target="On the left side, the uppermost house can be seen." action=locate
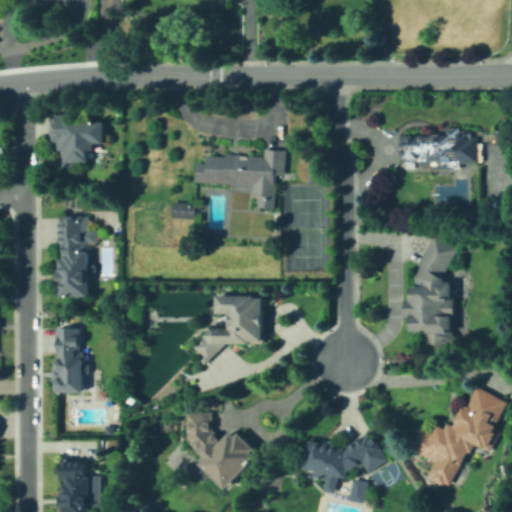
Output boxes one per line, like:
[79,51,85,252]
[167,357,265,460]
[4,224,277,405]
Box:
[48,114,102,167]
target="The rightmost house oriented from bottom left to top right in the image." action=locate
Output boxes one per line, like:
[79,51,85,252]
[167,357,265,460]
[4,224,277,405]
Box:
[416,388,507,490]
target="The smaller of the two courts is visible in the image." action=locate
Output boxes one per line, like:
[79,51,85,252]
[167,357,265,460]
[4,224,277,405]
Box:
[374,462,404,488]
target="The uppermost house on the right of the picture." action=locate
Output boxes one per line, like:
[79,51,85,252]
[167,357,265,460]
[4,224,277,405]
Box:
[401,124,484,170]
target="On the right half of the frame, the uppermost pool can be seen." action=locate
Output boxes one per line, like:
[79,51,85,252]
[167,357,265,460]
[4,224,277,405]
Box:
[436,179,469,203]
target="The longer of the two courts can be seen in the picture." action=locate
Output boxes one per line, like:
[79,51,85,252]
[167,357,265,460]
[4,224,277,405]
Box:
[284,184,330,272]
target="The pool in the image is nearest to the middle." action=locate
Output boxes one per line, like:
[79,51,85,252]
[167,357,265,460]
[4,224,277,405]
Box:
[210,195,226,230]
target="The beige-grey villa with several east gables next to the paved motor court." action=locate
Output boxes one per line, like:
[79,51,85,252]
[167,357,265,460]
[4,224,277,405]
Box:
[407,237,455,350]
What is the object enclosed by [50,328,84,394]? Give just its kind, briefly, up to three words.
house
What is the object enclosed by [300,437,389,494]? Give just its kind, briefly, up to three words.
house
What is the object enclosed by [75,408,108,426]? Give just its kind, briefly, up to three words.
swimming pool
